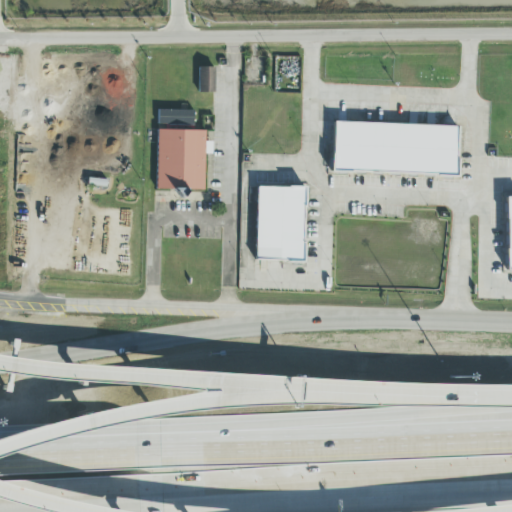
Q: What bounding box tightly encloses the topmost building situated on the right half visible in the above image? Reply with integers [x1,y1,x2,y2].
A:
[334,120,461,176]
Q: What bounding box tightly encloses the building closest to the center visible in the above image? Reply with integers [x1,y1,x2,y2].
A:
[256,185,308,262]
